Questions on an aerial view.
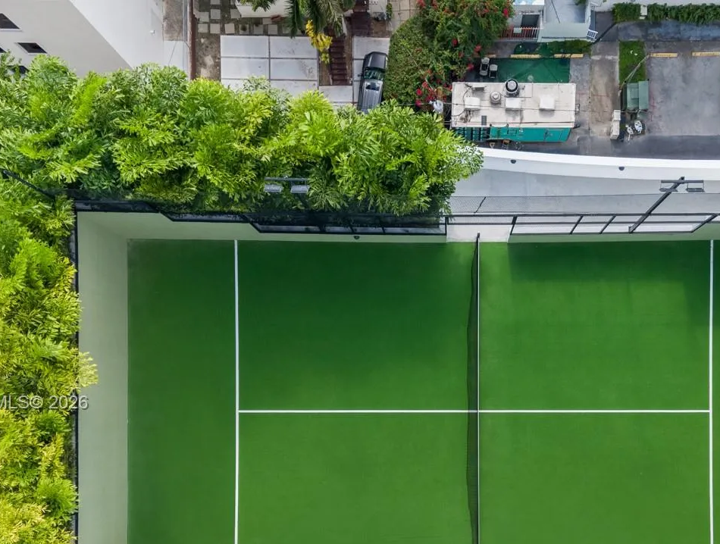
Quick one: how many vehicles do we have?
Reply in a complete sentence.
The photo contains 2 vehicles.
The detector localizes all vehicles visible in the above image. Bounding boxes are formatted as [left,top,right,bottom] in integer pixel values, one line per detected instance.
[452,77,576,147]
[352,47,390,127]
